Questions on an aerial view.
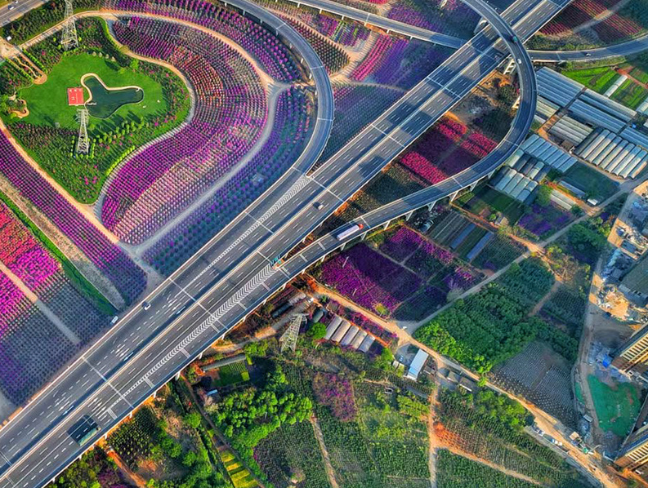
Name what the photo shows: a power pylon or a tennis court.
power pylon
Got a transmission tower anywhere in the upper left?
Yes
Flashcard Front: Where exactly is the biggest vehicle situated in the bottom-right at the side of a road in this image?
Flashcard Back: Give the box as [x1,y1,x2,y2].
[576,425,592,442]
